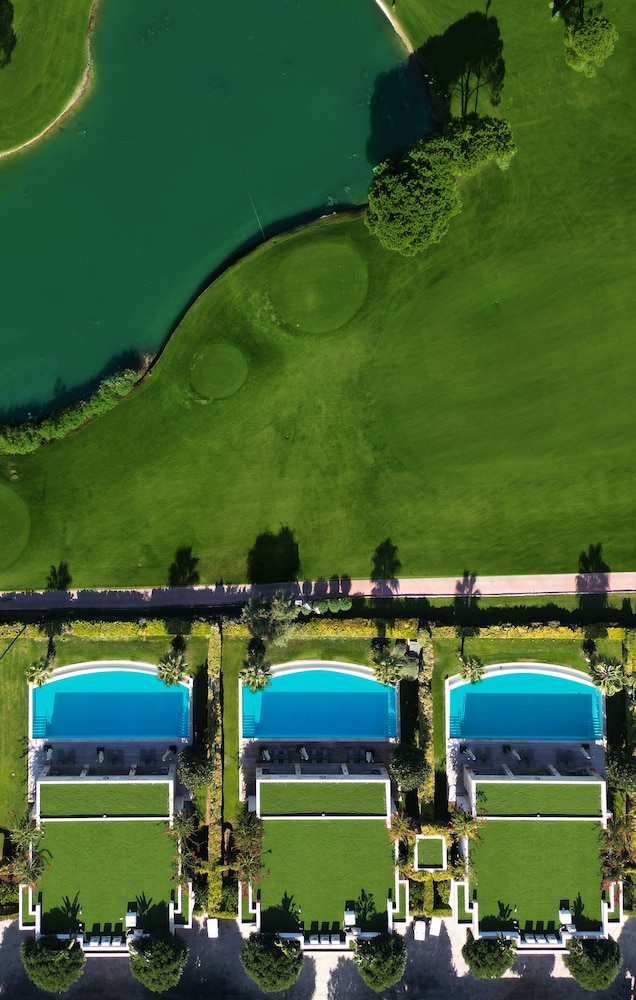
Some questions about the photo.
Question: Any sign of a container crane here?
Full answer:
No, there is no container crane in the image.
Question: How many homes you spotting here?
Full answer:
The picture shows 3 homes.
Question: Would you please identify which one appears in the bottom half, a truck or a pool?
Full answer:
You can see a pool in the bottom half.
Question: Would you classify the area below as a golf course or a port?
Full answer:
What you see here is a golf course.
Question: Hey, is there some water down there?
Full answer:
Yes, there is water in the image.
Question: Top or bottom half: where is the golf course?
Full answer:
The golf course is in the top half of the image.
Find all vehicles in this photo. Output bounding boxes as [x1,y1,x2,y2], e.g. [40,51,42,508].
[206,914,219,938]
[413,914,426,939]
[427,914,442,938]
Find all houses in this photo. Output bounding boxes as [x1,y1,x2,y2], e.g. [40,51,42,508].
[451,764,627,956]
[238,764,409,956]
[20,764,196,956]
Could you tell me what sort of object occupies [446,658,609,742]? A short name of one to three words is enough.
swimming pool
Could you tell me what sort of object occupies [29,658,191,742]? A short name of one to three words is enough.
swimming pool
